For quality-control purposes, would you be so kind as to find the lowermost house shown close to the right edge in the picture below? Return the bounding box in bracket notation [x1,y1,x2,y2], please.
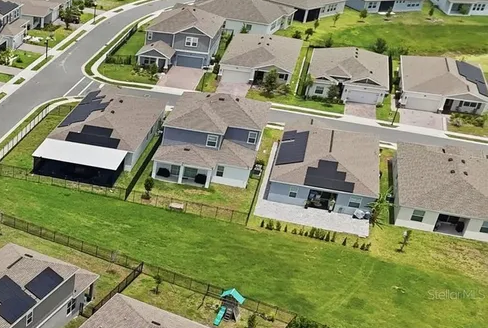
[390,143,488,241]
